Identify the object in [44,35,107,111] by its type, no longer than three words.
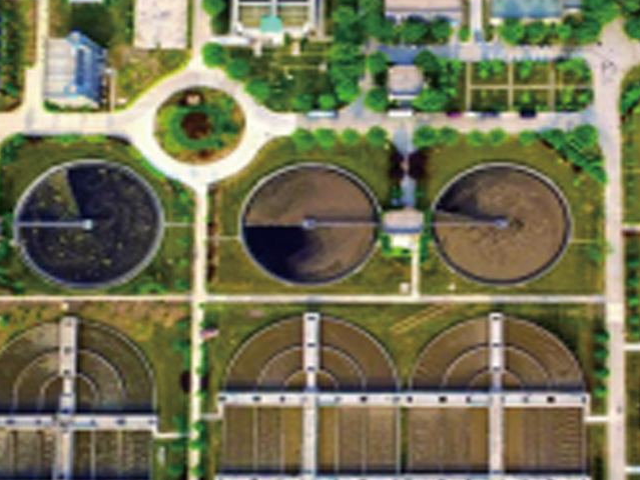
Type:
building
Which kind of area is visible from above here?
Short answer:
industrial area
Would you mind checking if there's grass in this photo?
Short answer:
Yes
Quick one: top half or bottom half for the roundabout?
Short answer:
top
